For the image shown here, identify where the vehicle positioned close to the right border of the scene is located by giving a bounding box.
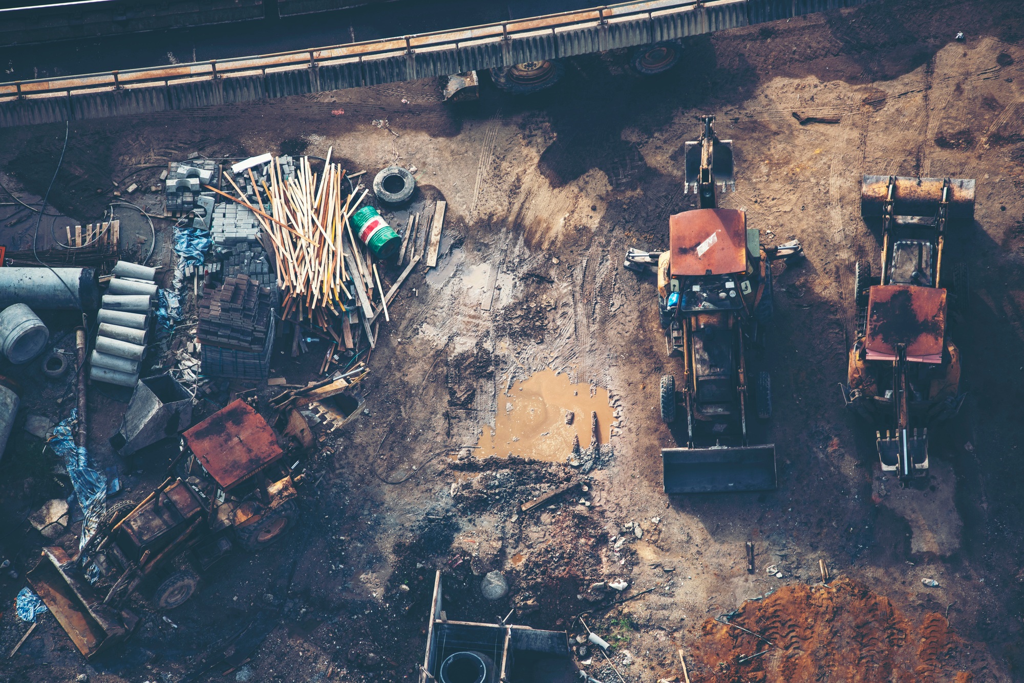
[836,178,976,494]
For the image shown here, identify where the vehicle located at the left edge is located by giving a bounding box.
[27,369,365,667]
